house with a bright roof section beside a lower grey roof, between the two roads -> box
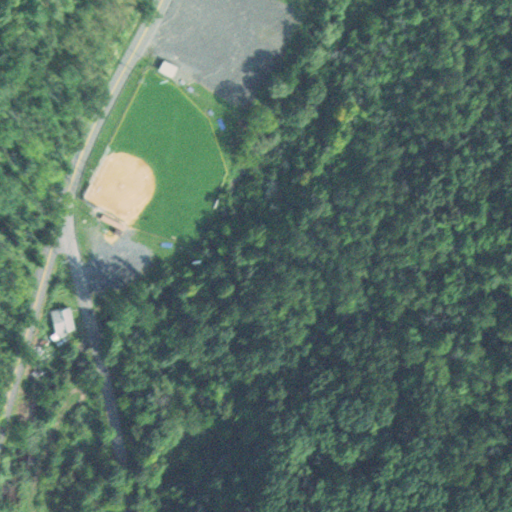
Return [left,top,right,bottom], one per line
[51,308,74,336]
